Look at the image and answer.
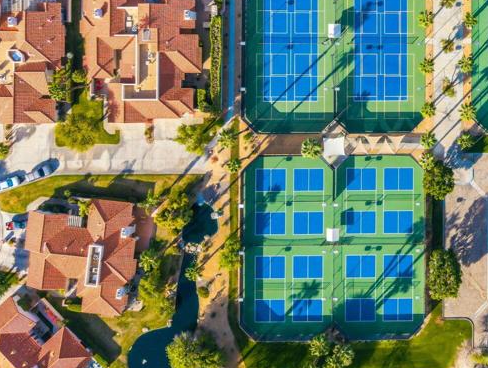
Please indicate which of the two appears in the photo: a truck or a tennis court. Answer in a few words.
tennis court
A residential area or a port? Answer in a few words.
residential area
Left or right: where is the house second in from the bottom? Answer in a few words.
left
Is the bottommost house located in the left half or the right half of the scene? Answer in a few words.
left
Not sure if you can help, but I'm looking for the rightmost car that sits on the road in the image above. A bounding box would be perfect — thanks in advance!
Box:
[27,163,53,179]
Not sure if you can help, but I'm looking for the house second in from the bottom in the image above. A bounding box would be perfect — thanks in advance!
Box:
[26,199,142,317]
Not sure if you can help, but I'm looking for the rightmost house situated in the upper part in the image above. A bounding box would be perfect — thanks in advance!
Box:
[81,0,206,124]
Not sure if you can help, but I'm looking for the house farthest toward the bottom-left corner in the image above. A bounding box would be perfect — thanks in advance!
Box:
[0,295,94,368]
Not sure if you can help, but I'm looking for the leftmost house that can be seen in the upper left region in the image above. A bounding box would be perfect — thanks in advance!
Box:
[0,0,71,125]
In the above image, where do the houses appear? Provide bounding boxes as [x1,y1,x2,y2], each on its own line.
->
[26,199,142,317]
[0,295,94,368]
[81,0,206,124]
[0,0,71,125]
